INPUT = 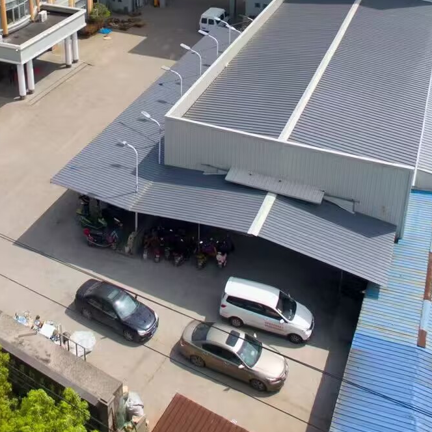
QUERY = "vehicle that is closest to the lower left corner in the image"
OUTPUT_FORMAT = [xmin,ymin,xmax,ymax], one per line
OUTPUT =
[73,283,160,344]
